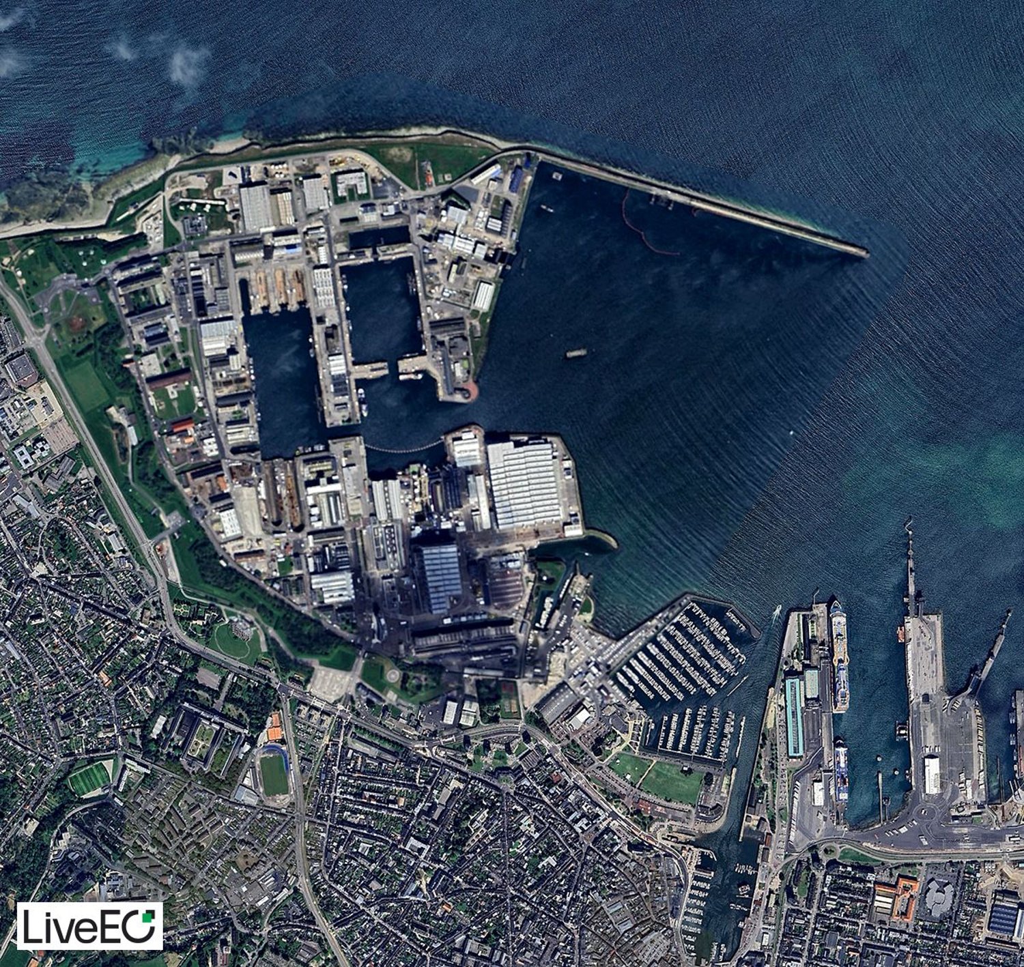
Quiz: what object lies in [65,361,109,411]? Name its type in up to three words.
sports field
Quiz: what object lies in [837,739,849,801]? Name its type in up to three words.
ship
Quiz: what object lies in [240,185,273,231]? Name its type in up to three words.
building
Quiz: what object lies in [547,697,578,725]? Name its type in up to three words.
building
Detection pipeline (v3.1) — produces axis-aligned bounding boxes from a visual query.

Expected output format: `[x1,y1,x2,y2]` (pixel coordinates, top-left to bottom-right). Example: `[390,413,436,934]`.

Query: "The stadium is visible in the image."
[251,743,297,807]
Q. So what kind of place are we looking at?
port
